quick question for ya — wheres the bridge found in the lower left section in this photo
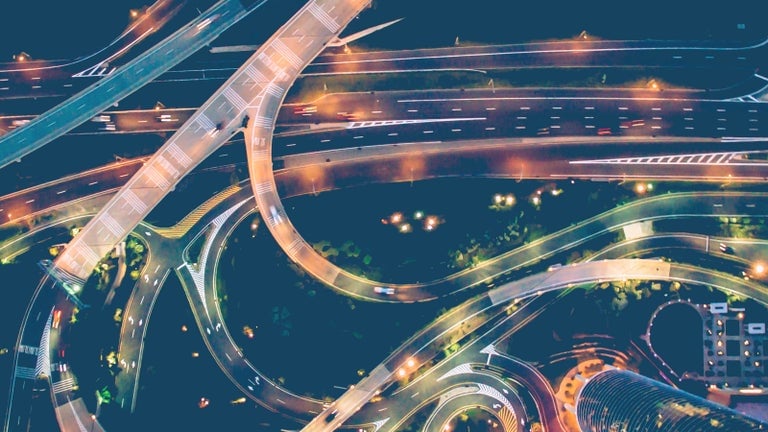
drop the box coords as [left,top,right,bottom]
[2,265,104,432]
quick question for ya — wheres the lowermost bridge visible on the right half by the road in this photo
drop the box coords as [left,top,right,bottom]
[300,259,768,432]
